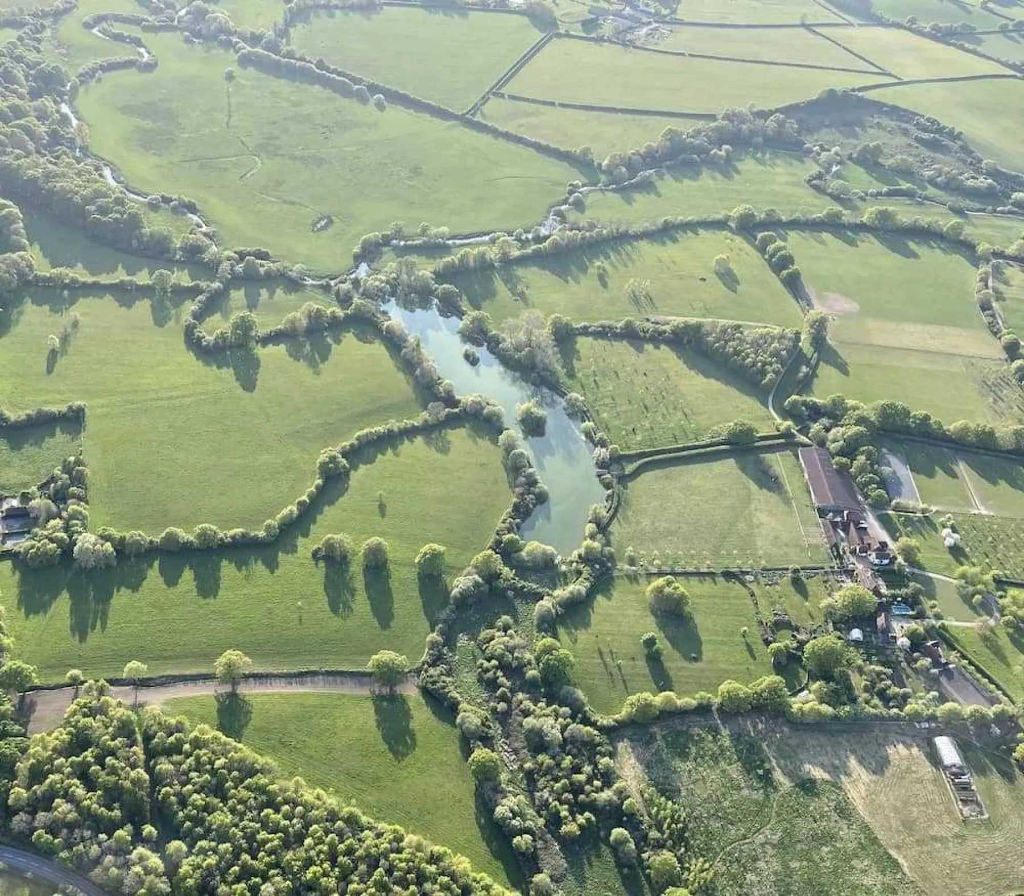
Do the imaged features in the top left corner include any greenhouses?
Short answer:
No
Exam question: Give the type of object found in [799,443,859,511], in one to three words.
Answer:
barn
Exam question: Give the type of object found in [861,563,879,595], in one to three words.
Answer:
building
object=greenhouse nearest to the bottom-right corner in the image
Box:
[935,733,964,770]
